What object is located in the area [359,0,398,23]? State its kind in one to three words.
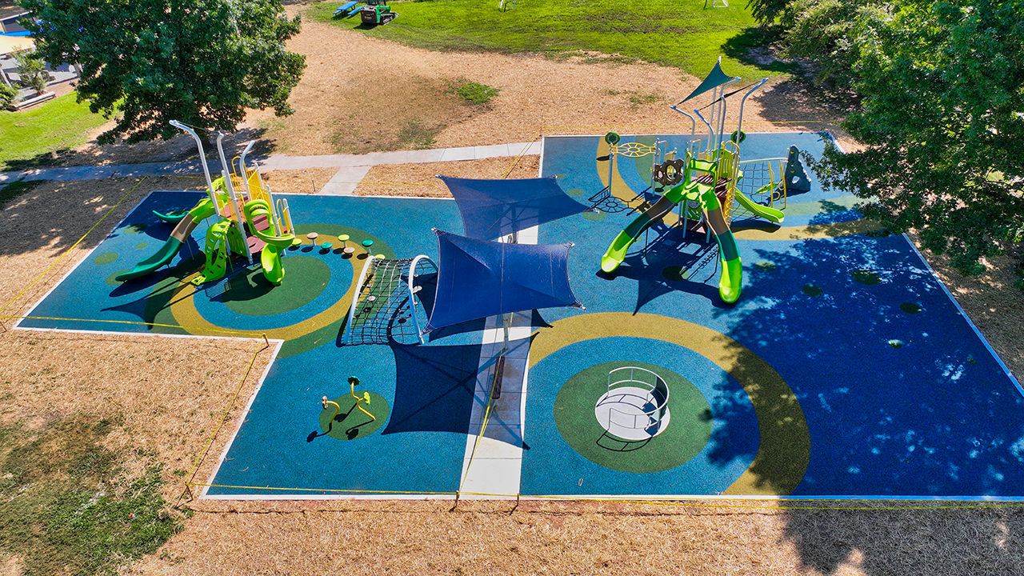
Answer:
work vehicle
